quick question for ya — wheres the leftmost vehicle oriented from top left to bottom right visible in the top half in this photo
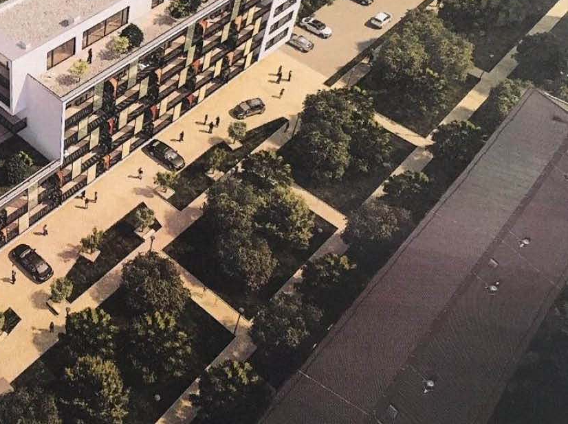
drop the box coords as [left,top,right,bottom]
[145,135,186,166]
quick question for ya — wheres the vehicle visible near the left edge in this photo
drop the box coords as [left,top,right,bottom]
[9,239,53,282]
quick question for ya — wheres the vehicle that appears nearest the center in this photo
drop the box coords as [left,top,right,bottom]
[231,89,267,117]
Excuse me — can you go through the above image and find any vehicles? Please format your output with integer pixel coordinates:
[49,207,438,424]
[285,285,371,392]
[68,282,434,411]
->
[291,28,325,52]
[369,7,393,25]
[9,239,53,282]
[305,13,342,37]
[231,89,267,117]
[145,135,186,166]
